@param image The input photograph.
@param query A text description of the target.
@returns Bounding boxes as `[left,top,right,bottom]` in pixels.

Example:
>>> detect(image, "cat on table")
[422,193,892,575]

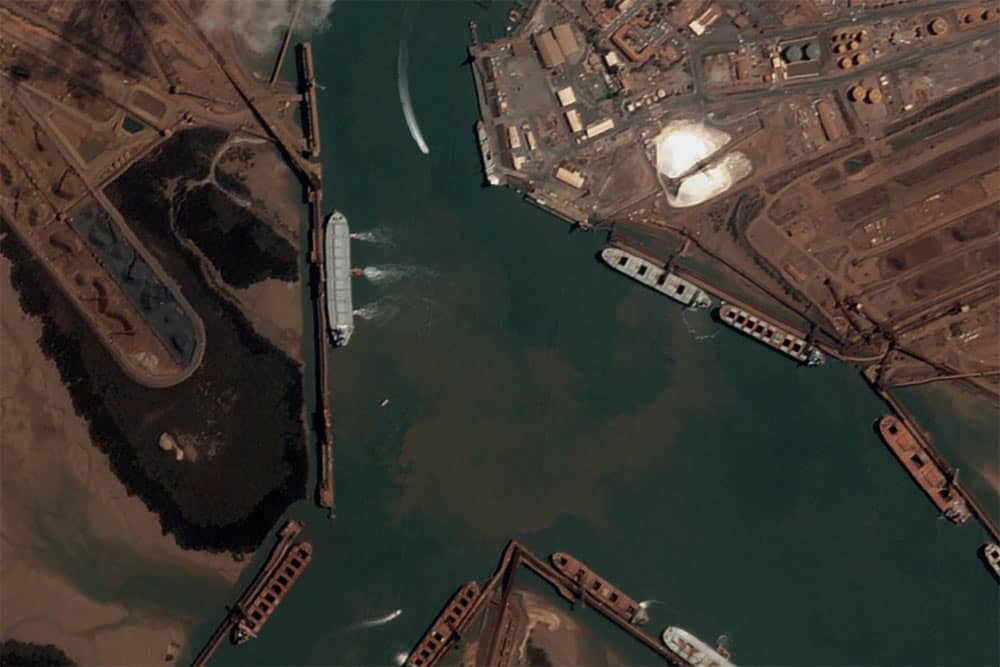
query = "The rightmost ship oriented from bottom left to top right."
[401,581,479,667]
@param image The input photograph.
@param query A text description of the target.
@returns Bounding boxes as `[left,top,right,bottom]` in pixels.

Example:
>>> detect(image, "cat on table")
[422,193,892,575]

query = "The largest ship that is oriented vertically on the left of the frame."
[326,211,354,348]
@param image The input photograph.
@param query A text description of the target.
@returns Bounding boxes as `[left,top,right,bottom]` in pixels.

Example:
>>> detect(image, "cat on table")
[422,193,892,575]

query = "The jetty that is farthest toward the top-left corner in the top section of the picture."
[302,42,320,155]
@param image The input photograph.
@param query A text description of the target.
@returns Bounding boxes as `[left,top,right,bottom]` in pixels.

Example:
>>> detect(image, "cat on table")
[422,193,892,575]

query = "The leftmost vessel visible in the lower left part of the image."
[232,542,312,645]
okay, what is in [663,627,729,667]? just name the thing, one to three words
ship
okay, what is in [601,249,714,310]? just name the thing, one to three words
ship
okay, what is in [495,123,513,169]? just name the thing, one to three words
shed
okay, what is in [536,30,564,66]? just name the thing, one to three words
building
